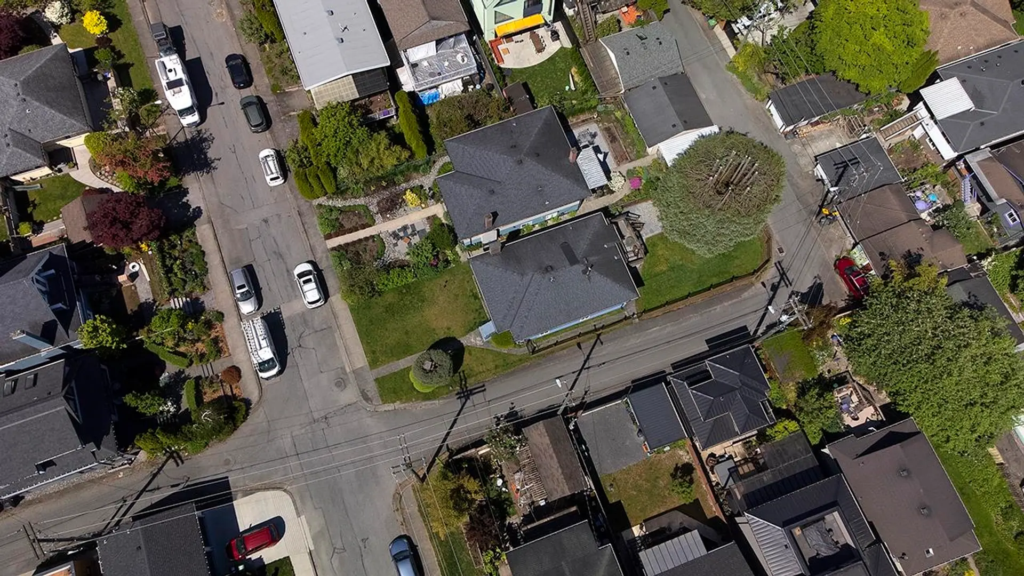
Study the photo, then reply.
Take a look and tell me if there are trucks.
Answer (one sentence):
Yes, the picture does show a truck.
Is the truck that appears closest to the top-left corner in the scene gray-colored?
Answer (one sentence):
Yes, gray is the color of the truck that appears closest to the top-left corner.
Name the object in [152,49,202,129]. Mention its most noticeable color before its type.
white camper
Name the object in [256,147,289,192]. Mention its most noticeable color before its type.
white car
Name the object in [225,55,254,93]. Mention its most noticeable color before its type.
black car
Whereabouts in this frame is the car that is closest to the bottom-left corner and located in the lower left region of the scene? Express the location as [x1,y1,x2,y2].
[227,517,286,558]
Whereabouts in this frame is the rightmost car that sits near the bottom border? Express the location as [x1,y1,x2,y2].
[387,531,425,576]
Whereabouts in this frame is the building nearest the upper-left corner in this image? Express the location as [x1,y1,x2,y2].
[0,43,97,191]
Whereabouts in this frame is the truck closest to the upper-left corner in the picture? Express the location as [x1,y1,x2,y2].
[142,13,179,56]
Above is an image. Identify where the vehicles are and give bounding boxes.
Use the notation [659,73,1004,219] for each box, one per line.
[142,13,179,56]
[232,312,285,387]
[829,254,878,311]
[152,49,202,129]
[239,95,271,138]
[225,55,254,93]
[256,147,289,192]
[293,260,328,312]
[229,267,261,316]
[387,531,425,576]
[227,517,286,558]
